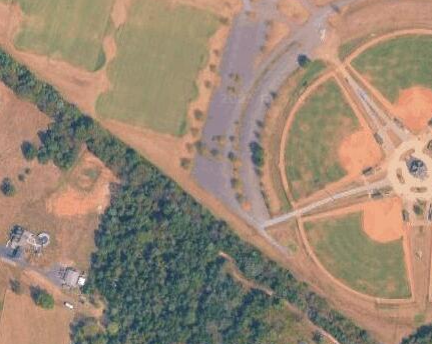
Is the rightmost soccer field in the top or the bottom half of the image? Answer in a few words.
top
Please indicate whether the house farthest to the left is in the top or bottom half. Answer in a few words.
bottom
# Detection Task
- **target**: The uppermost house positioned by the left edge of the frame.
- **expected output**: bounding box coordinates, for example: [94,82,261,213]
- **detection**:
[9,230,39,255]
